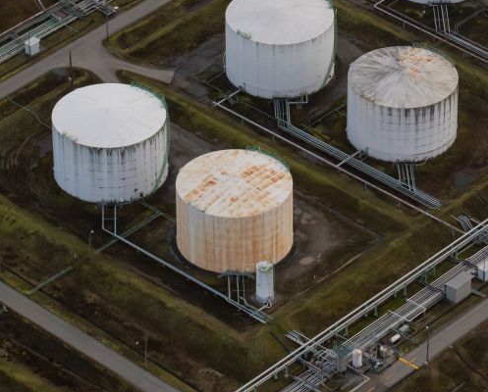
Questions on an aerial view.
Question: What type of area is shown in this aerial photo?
industrial area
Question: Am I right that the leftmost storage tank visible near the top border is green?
No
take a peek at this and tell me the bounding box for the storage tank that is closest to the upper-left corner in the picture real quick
[52,80,174,203]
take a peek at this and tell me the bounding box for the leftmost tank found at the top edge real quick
[226,0,340,99]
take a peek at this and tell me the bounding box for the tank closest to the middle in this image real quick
[175,146,293,275]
